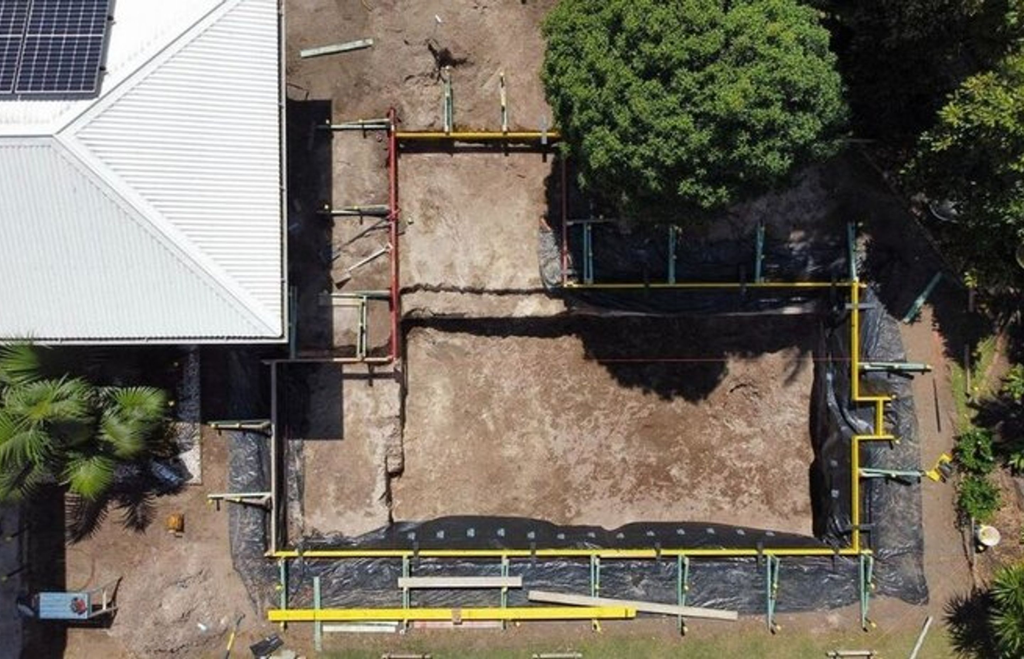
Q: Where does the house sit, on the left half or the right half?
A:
left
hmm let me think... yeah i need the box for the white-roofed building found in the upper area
[0,0,290,361]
